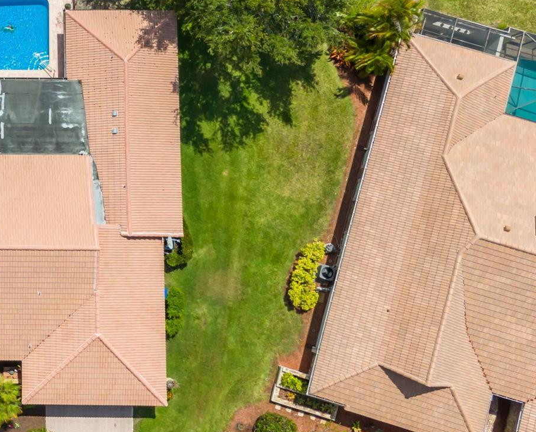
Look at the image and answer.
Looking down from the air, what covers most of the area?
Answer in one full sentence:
For the most part, this view shows buildings.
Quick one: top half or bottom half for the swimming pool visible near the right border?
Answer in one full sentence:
The swimming pool visible near the right border is in the top half of the image.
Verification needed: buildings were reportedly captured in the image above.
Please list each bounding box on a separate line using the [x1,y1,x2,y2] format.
[307,34,536,432]
[0,7,184,408]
